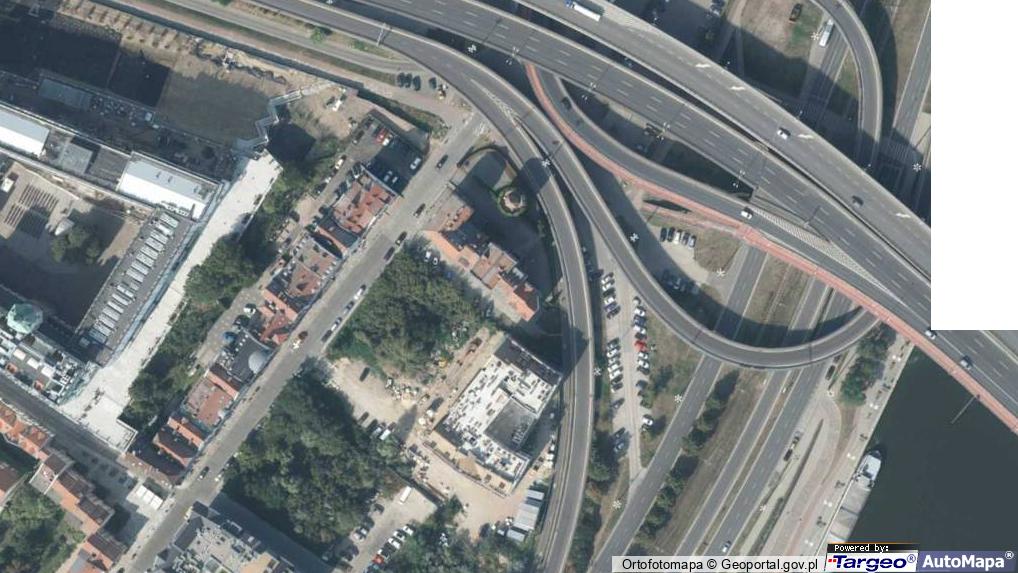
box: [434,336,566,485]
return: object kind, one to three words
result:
building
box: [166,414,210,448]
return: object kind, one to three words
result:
house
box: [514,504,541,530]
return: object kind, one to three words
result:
shed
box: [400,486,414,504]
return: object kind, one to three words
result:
vehicle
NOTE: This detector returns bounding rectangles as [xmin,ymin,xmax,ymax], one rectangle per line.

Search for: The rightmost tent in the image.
[135,485,164,511]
